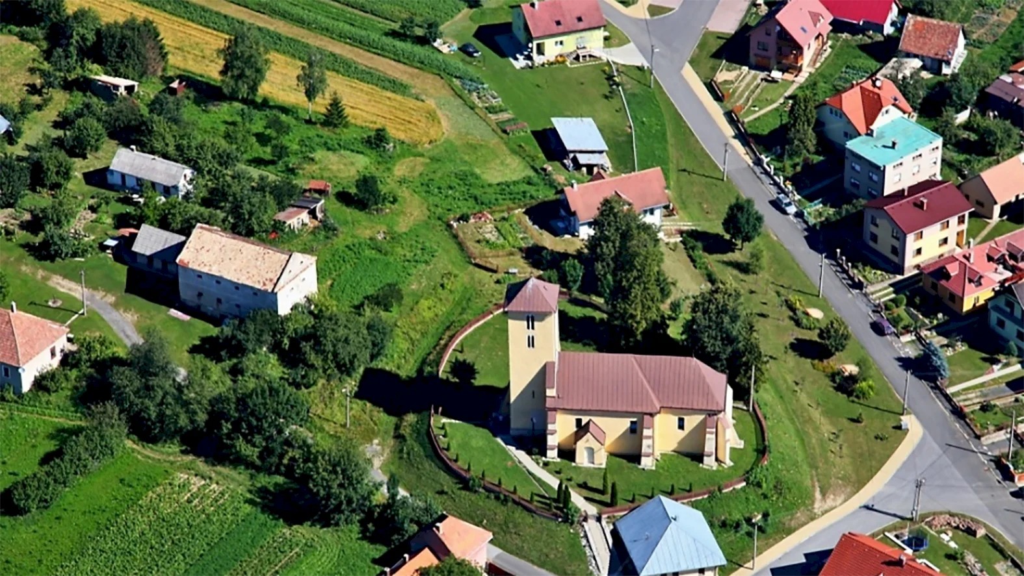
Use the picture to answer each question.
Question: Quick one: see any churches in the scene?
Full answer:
Yes, the frame does contain a church.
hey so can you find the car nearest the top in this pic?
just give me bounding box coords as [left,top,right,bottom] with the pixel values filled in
[456,39,480,54]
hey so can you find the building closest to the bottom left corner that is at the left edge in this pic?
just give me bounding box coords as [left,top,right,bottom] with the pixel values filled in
[0,301,66,391]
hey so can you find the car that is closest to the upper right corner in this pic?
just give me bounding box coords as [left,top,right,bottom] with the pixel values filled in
[776,192,795,210]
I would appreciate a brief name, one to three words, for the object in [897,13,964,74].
house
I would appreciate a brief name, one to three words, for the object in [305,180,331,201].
shed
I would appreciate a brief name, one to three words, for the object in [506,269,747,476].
church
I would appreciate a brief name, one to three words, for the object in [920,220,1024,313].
house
